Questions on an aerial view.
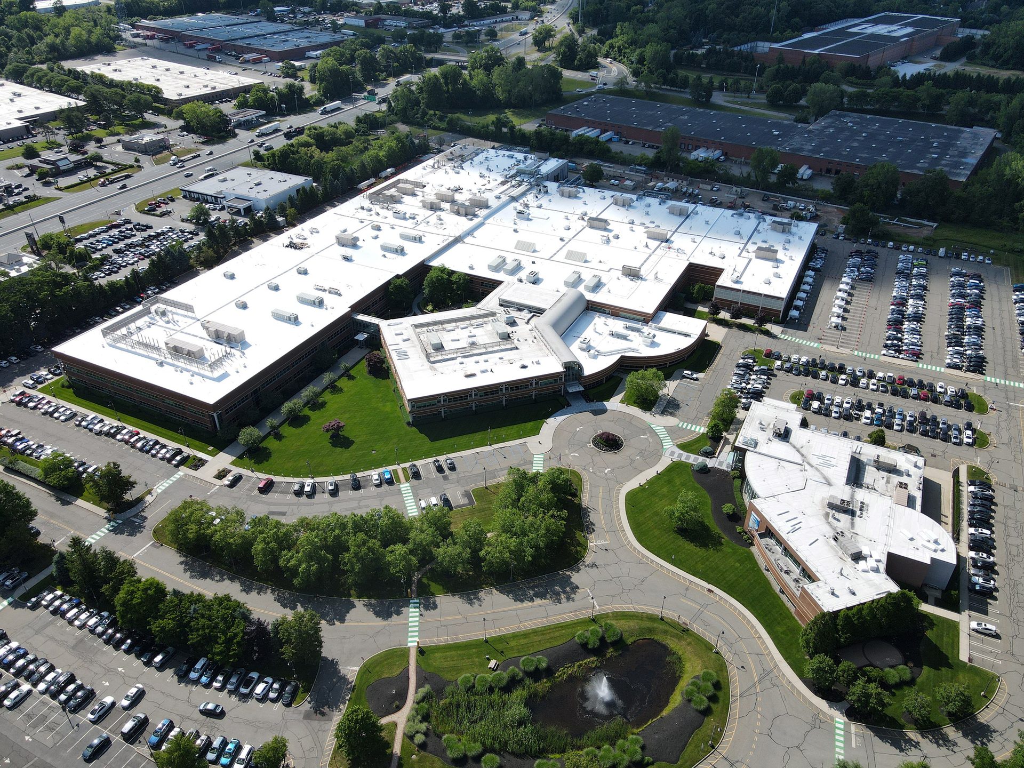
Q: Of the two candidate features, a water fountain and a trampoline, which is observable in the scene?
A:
water fountain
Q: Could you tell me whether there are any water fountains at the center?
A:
No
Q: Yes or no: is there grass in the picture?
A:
Yes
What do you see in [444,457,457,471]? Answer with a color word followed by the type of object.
gray vehicle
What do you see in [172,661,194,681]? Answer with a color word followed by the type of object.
black car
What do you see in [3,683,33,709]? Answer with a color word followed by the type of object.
white car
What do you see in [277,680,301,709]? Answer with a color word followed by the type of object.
black car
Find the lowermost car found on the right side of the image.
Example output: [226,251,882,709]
[969,621,999,637]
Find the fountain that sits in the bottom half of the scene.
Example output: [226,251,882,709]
[574,683,631,724]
